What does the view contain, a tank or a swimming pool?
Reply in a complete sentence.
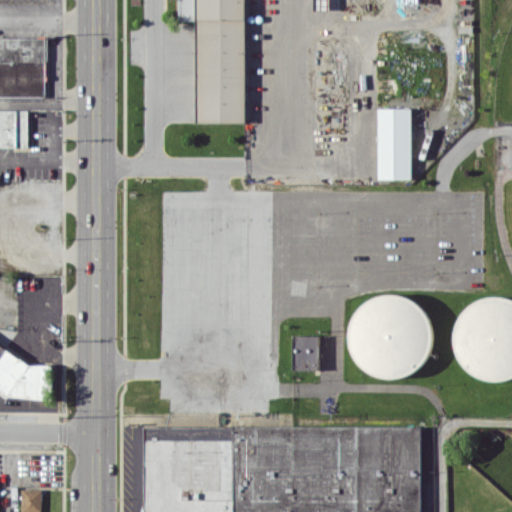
It is a tank that can be seen here.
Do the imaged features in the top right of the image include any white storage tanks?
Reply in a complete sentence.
No, I can find no white storage tank in the top right of the image.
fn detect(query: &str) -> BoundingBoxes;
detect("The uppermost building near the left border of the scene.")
[0,38,48,98]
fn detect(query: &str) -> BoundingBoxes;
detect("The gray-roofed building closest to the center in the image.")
[294,337,320,372]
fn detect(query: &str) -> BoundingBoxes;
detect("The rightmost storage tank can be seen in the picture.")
[454,297,512,382]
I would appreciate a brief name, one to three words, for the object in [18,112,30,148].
building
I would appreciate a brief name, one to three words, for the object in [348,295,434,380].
storage tank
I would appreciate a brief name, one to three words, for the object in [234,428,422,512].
building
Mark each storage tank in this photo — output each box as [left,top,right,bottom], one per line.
[454,297,512,382]
[348,295,434,380]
